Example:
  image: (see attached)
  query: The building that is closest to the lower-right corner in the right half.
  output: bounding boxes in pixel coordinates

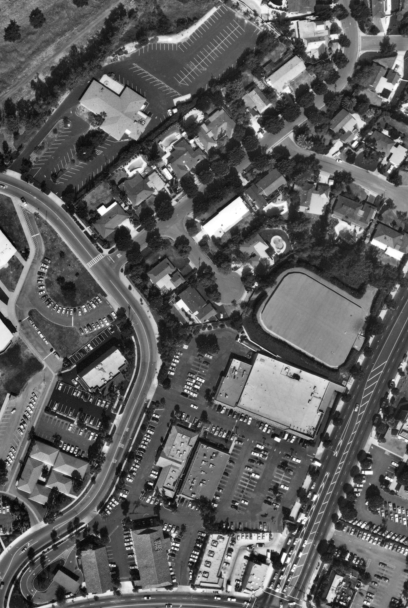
[325,573,353,605]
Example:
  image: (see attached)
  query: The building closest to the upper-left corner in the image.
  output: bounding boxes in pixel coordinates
[78,76,152,141]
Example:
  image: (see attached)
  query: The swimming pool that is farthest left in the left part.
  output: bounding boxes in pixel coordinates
[127,159,145,173]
